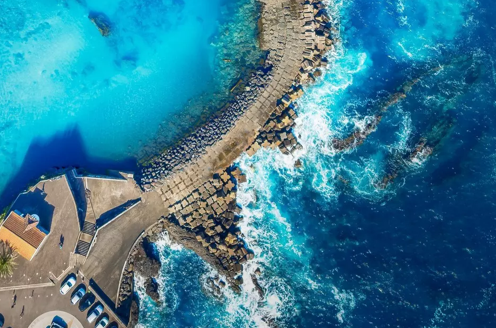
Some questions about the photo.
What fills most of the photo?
water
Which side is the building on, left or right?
left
